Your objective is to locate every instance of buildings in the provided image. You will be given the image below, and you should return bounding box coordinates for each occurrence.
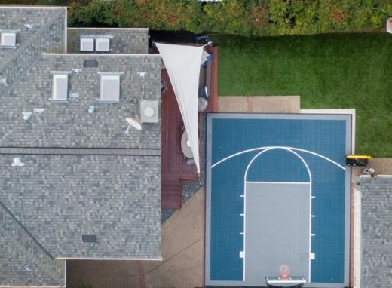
[354,174,392,288]
[0,4,162,288]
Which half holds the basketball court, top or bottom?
bottom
